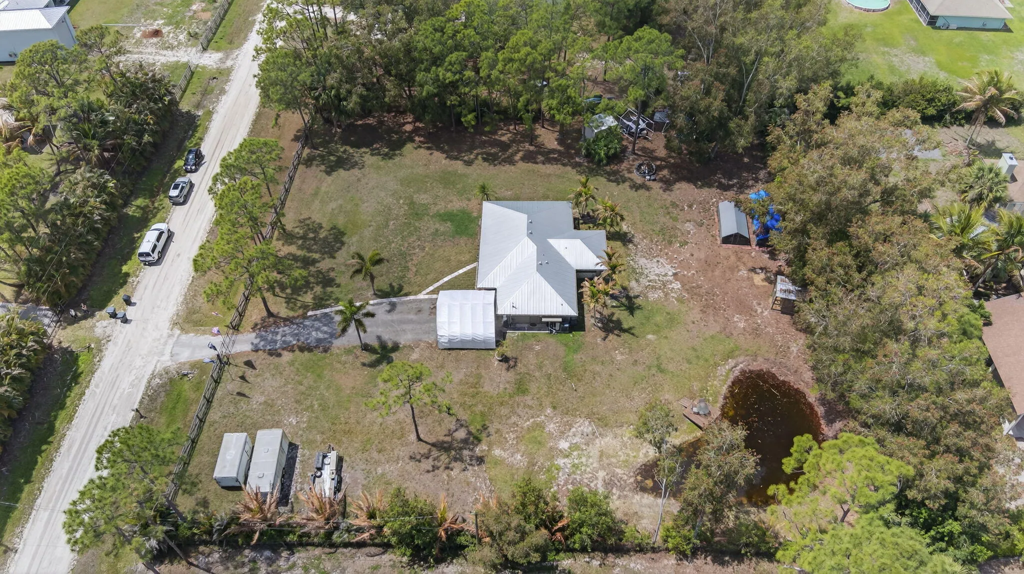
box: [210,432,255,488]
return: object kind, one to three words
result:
trailer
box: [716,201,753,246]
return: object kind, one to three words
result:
building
